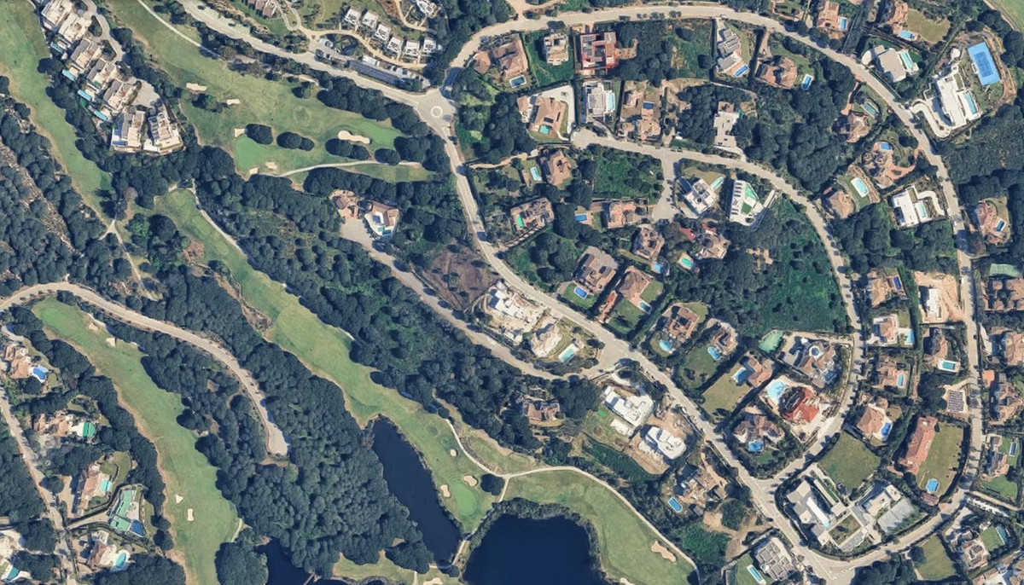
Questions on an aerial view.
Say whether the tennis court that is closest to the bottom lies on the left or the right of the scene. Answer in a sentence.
The tennis court that is closest to the bottom is on the right side of the image.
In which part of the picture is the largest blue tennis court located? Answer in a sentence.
The largest blue tennis court is located in the top right region of the scene.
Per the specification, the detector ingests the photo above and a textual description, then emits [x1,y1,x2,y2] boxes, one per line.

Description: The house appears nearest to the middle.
[492,280,538,326]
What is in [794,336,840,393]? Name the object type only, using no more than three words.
house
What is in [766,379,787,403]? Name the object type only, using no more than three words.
swimming pool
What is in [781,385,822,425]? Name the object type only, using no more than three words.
house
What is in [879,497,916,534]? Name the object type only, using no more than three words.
tennis court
